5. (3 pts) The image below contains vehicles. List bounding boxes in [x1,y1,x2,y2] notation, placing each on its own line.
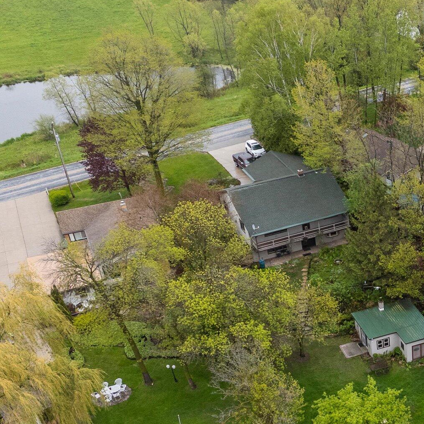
[230,145,253,164]
[246,137,266,154]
